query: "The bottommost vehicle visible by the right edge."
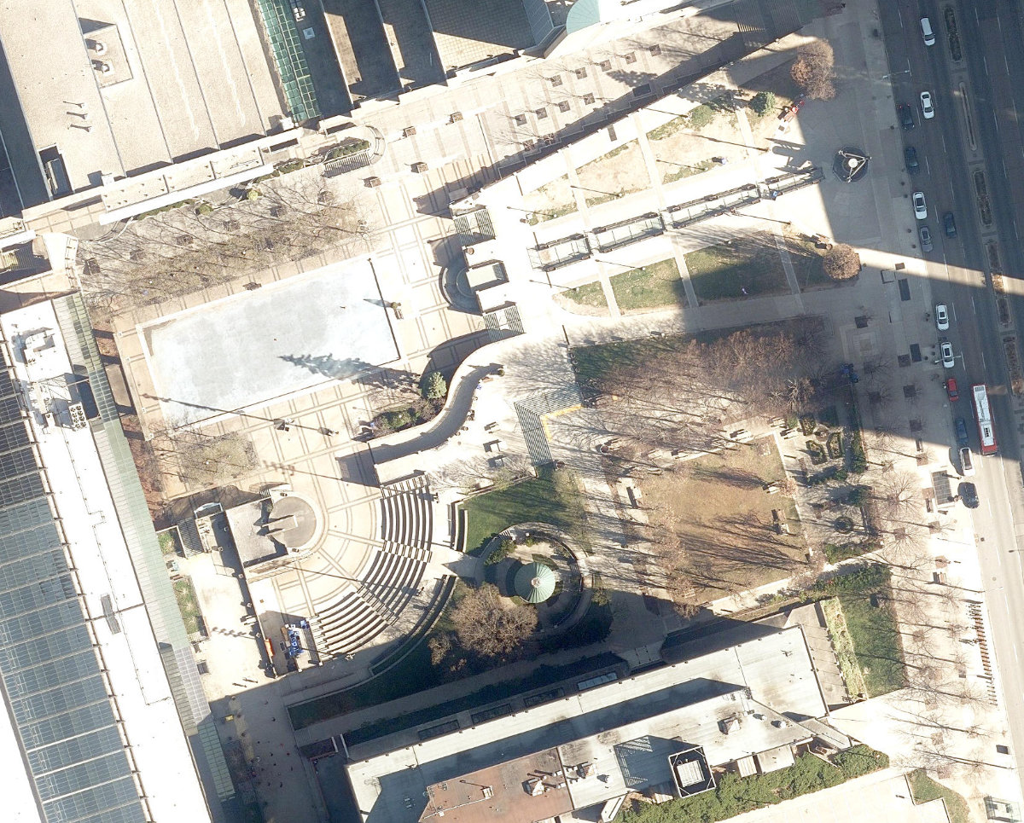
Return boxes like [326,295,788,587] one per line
[963,481,978,508]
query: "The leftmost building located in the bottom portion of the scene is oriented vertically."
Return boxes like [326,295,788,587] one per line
[0,287,244,823]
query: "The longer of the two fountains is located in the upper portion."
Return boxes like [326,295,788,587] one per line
[439,249,470,312]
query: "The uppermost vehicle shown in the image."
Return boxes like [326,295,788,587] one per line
[920,17,936,46]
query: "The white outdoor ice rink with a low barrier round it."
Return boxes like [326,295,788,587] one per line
[136,259,402,430]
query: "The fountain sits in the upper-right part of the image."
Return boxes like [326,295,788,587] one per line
[833,147,872,182]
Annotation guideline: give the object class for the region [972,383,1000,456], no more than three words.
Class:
bus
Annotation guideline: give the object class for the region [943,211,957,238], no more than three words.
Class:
car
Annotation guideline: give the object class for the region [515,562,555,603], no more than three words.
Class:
gazebo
